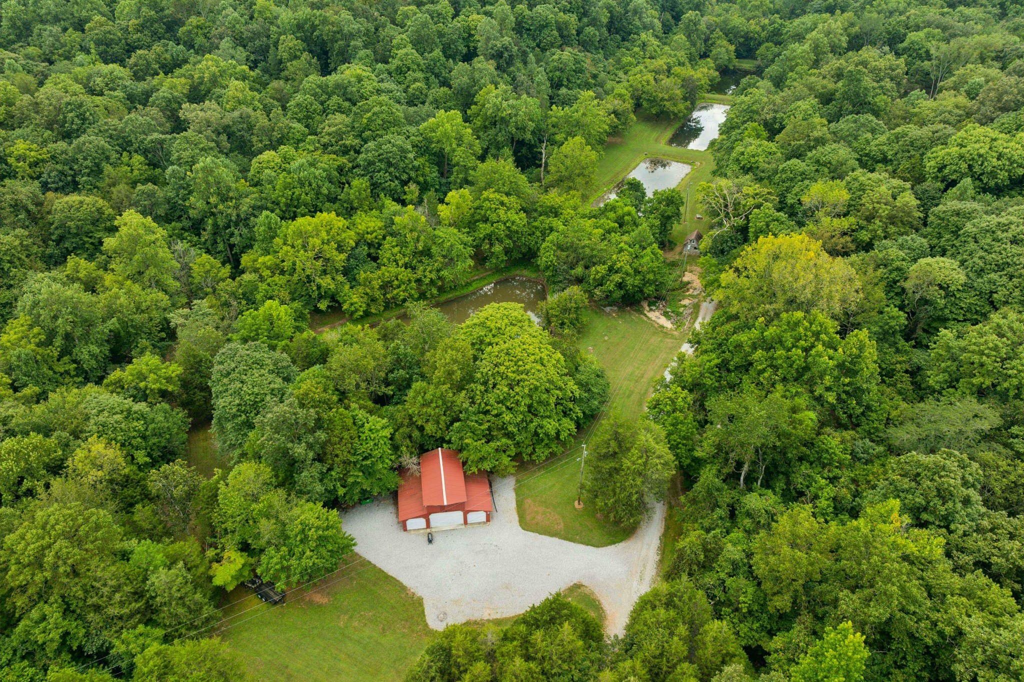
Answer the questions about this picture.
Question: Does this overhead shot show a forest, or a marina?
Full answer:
What you see here is a forest.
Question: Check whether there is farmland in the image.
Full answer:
No, there's no farmland in this view.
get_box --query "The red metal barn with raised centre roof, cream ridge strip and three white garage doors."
[397,441,493,535]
